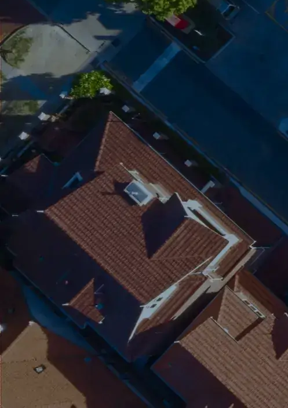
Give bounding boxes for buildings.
[152,271,288,408]
[0,282,161,408]
[0,111,258,361]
